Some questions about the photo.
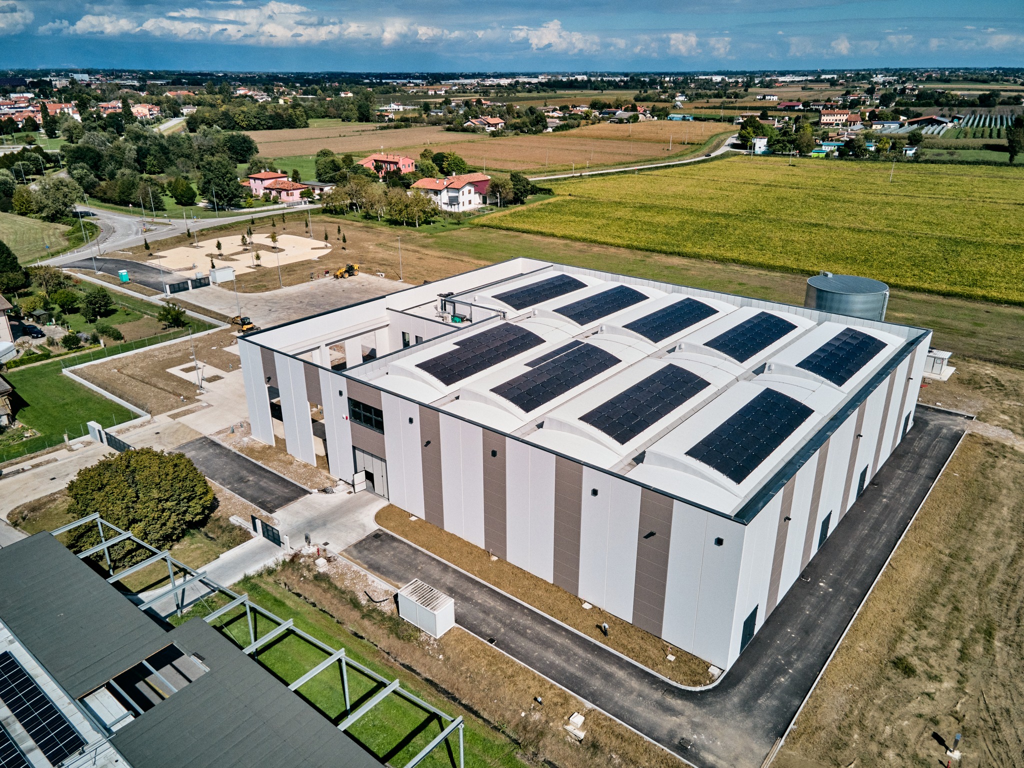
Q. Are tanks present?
Yes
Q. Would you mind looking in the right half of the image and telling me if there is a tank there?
Yes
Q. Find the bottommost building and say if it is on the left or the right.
left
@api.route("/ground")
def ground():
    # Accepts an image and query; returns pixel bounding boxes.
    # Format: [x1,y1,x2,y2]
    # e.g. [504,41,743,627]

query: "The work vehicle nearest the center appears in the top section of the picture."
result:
[334,264,362,281]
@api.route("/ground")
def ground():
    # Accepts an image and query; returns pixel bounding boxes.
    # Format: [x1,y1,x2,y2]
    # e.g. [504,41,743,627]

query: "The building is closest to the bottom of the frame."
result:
[0,511,466,768]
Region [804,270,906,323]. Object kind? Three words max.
storage tank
